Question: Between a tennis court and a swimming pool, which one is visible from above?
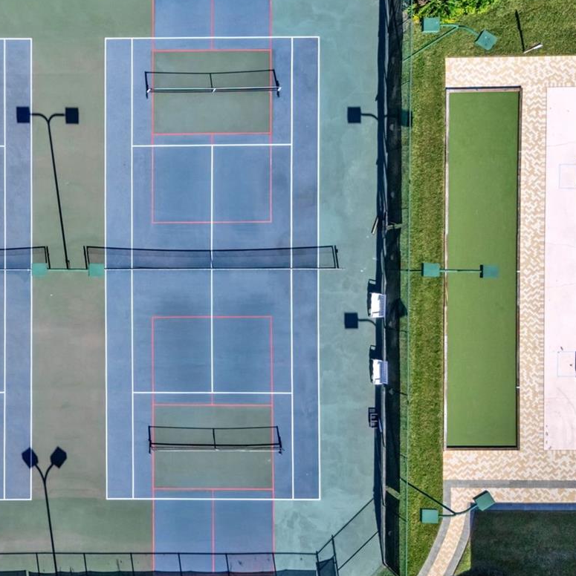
tennis court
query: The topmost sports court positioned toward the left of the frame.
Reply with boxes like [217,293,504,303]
[152,0,272,223]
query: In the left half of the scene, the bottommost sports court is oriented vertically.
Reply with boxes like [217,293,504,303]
[152,316,275,576]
